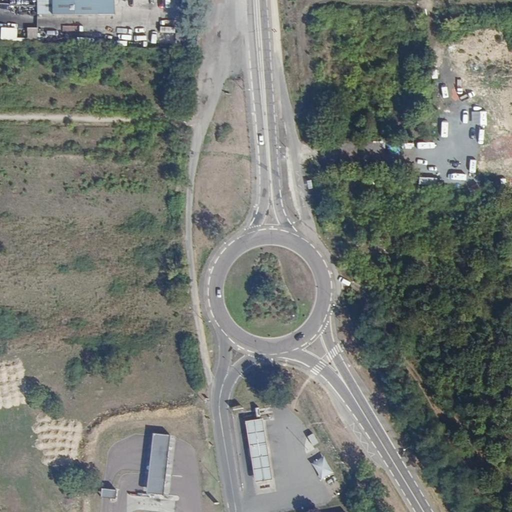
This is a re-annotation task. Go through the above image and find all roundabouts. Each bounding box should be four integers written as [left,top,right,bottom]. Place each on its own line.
[208,228,333,354]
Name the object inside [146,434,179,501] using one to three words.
building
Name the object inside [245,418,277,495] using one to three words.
building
